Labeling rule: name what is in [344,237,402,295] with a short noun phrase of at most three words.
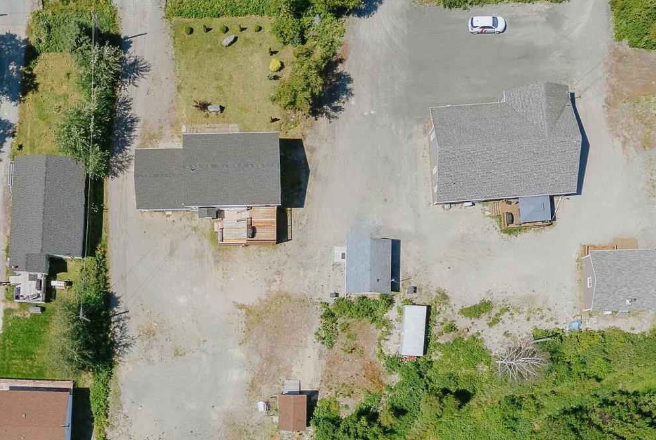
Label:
shed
